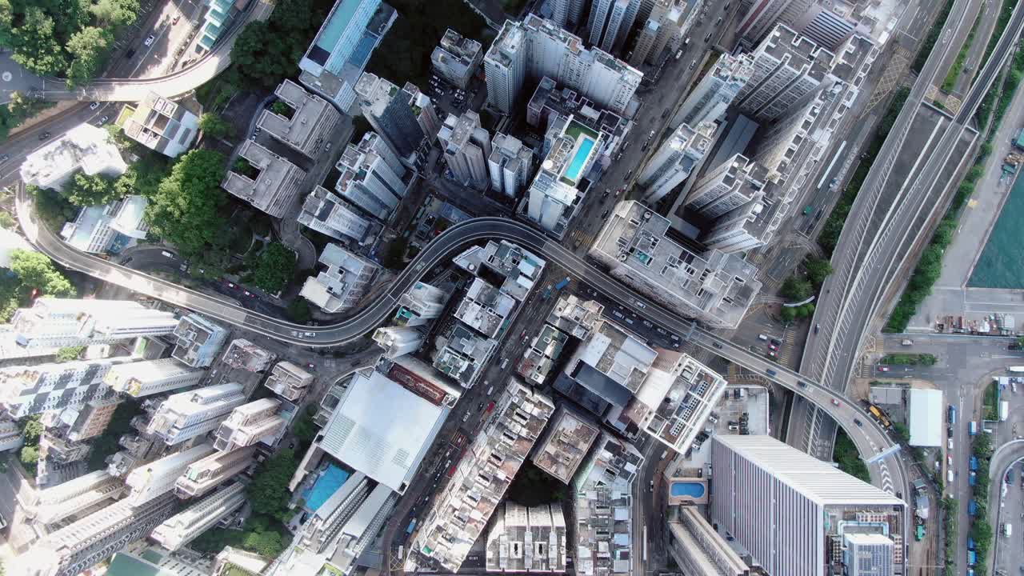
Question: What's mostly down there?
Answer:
buildings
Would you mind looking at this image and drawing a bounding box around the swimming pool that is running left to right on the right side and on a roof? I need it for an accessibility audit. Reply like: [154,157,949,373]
[672,483,705,498]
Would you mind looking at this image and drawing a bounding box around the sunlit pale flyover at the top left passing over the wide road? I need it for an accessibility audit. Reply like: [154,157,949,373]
[43,0,274,101]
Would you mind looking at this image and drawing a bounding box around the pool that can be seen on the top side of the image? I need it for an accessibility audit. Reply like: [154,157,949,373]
[565,138,593,180]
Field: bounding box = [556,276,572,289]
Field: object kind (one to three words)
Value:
vehicle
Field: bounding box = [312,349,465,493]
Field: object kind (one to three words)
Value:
building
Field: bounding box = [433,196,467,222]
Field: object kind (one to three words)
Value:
shed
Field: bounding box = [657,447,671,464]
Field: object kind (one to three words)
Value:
vehicle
